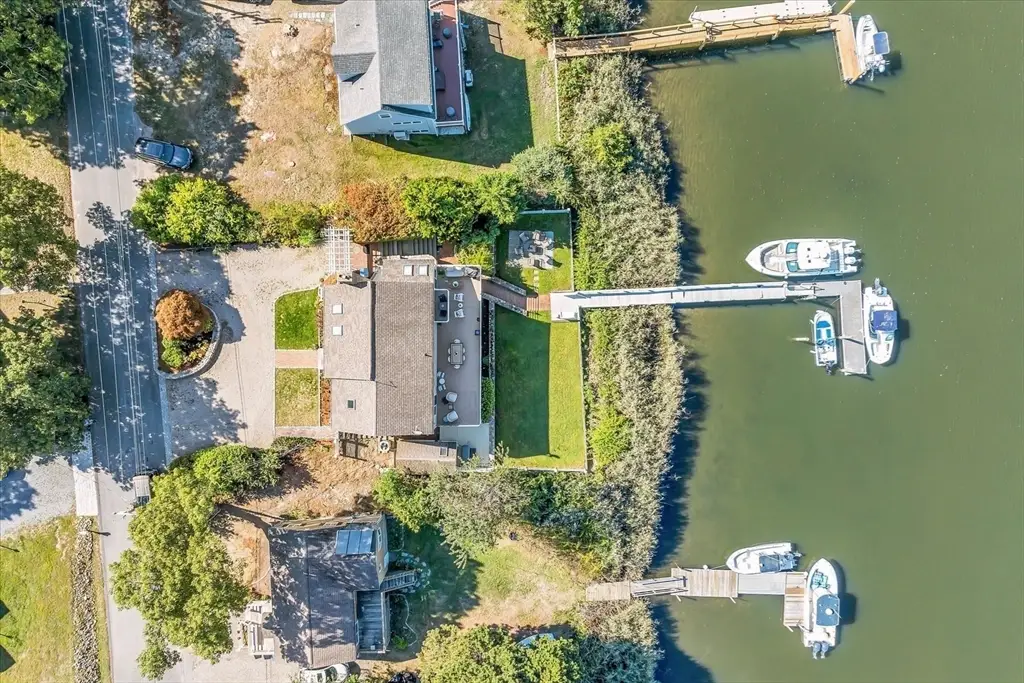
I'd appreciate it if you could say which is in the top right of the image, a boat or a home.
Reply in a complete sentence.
Looking in the top right of the image, you will find a boat.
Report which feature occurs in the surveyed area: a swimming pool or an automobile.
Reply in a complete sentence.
Of the two, only an automobile appears.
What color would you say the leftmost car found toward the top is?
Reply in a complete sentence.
The leftmost car found toward the top looks blue in the image.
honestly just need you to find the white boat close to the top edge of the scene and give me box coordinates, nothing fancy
[858,14,890,82]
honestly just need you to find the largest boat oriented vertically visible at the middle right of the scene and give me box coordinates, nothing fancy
[862,283,898,364]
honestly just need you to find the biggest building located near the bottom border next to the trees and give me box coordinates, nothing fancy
[269,516,390,664]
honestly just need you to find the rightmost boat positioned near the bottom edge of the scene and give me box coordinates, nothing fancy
[804,557,841,653]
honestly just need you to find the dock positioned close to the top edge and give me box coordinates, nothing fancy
[547,13,832,63]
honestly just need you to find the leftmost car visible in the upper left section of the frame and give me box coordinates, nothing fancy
[135,137,197,173]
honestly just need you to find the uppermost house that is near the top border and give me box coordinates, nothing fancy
[333,0,445,131]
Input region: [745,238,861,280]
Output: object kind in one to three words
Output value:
boat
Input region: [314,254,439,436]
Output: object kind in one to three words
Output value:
house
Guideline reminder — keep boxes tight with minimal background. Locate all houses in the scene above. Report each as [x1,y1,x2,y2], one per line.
[269,516,390,664]
[333,0,445,131]
[314,254,439,436]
